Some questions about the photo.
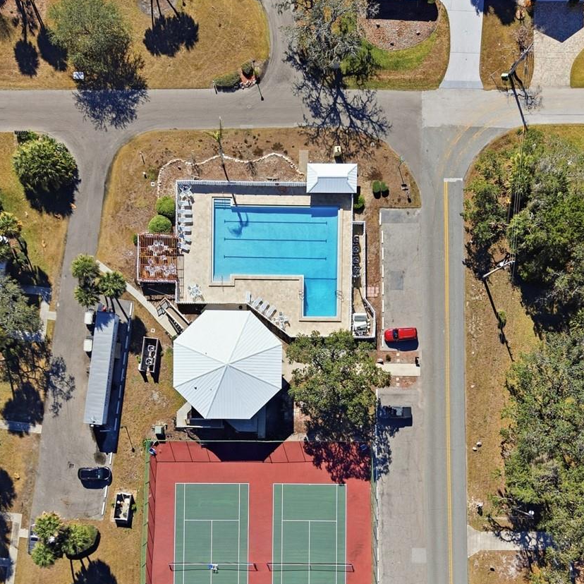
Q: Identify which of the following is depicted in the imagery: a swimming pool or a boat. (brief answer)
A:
swimming pool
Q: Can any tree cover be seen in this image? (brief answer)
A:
Yes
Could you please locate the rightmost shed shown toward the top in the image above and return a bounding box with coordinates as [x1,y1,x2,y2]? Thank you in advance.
[306,161,358,194]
